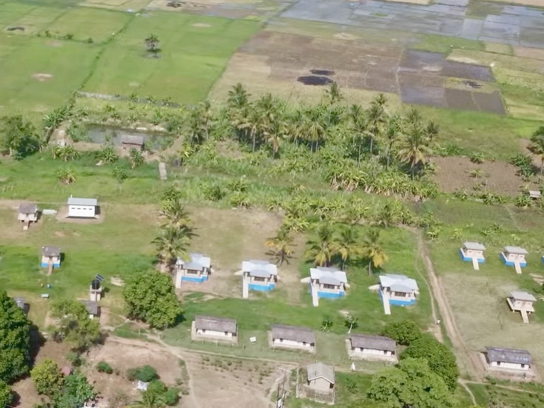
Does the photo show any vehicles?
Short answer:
No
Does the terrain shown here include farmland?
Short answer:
Yes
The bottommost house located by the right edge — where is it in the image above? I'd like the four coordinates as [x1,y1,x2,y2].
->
[480,347,536,380]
